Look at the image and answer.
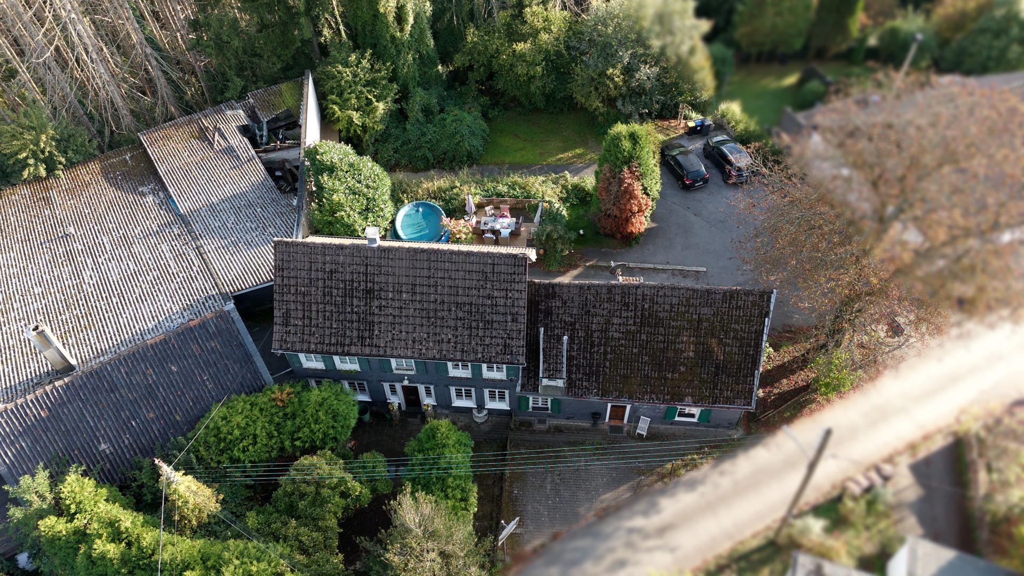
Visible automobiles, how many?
2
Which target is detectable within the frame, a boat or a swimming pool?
swimming pool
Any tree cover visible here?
Yes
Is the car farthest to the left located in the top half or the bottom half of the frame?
top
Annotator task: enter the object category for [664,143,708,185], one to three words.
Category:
car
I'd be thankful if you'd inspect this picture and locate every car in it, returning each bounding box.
[705,135,751,176]
[664,143,708,185]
